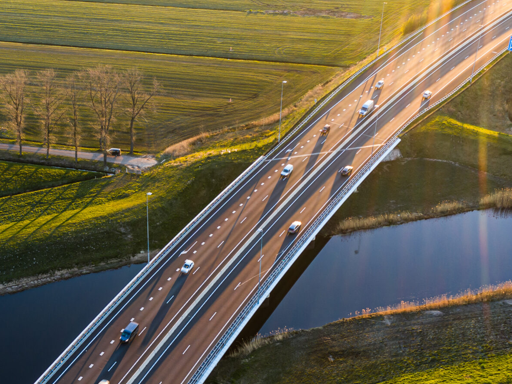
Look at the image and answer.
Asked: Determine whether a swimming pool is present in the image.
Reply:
No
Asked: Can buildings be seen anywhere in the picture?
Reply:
No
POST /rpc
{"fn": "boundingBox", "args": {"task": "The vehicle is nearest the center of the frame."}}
[280,163,293,177]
